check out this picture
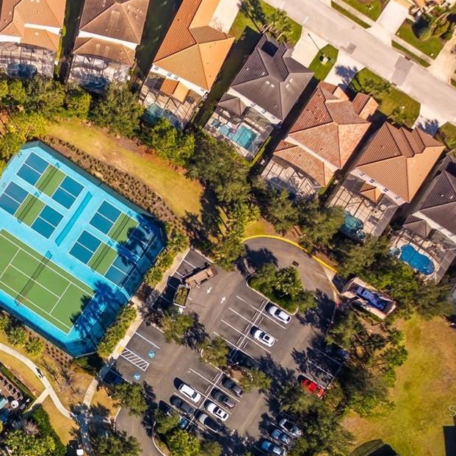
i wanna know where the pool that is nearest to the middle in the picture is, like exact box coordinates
[279,183,304,203]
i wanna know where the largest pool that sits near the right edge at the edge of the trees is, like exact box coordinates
[402,245,435,276]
